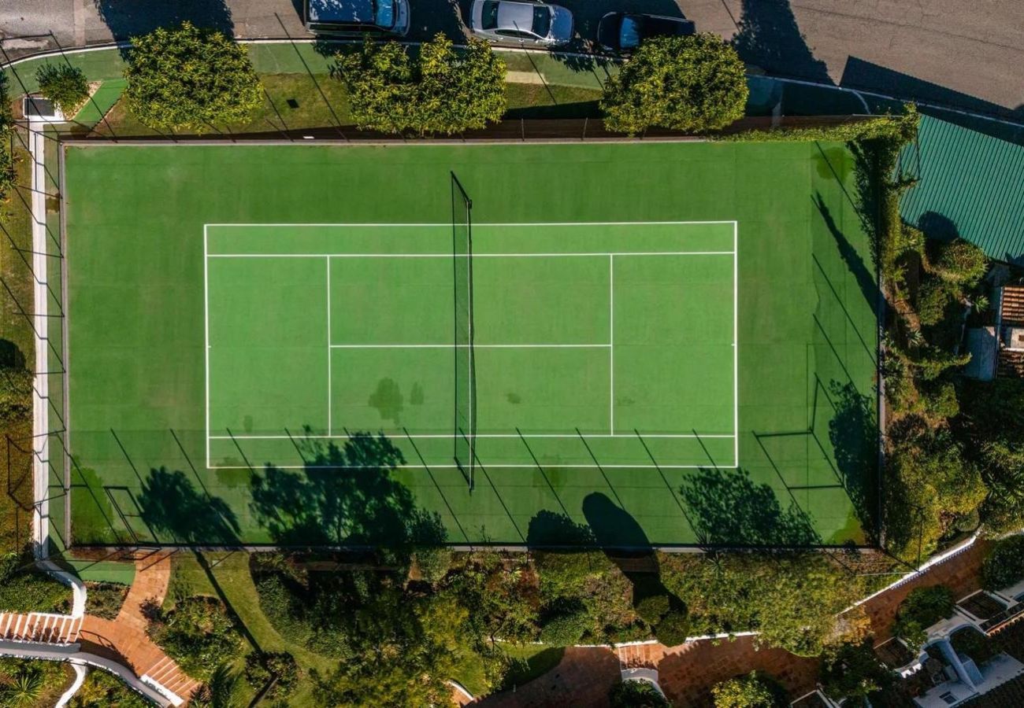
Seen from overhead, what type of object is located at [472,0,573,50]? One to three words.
car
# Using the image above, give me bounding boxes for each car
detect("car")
[599,4,697,56]
[472,0,573,50]
[300,0,411,41]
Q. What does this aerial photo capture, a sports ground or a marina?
sports ground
